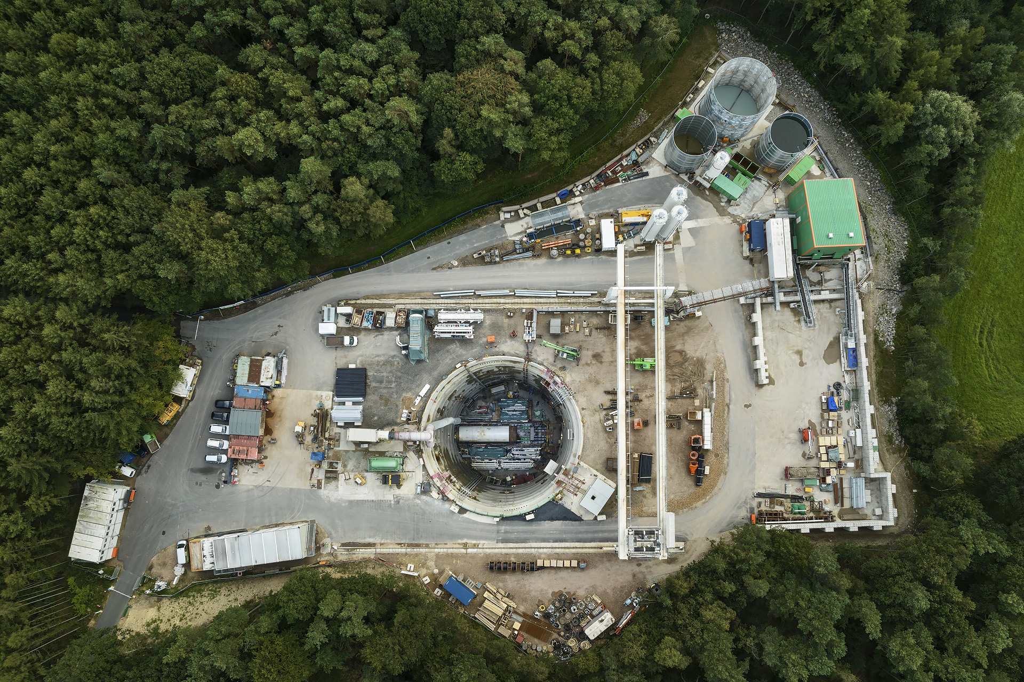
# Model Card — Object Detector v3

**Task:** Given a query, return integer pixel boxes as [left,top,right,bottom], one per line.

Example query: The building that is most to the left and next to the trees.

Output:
[69,481,131,562]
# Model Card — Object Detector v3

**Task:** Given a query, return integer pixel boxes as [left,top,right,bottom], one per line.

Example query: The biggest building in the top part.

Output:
[789,176,866,257]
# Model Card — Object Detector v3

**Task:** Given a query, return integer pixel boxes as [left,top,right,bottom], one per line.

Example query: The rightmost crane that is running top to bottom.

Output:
[592,244,671,567]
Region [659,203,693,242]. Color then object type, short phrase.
white silo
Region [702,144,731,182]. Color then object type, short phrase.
white silo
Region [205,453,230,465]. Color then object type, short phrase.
white vehicle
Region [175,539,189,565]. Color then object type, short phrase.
white vehicle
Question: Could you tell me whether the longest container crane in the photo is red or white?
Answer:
white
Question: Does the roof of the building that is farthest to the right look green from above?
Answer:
Yes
